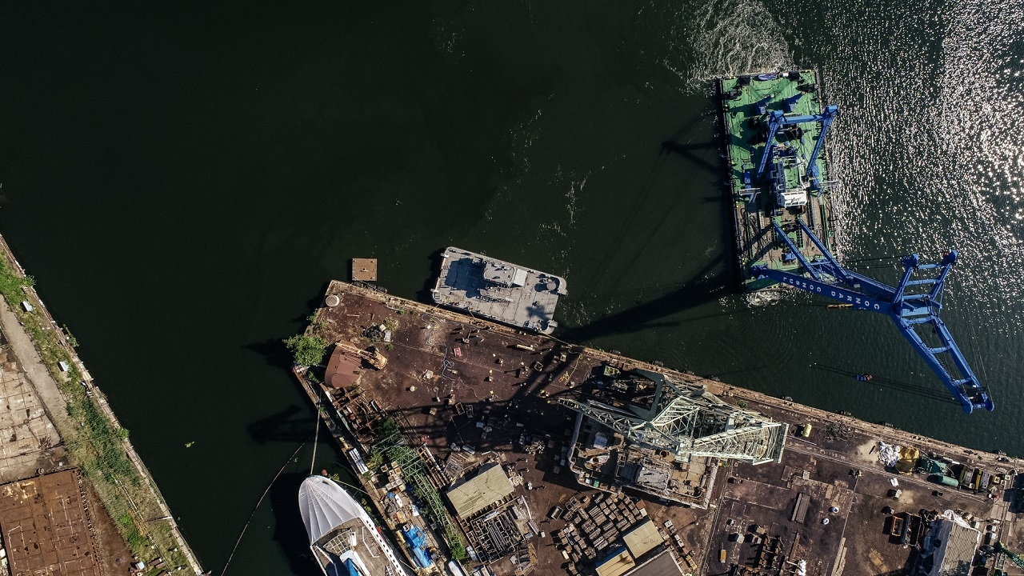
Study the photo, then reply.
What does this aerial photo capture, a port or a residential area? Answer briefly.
port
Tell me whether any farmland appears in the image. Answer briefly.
No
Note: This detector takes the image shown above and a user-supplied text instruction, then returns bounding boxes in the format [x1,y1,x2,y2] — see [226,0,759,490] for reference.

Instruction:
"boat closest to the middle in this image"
[431,246,566,332]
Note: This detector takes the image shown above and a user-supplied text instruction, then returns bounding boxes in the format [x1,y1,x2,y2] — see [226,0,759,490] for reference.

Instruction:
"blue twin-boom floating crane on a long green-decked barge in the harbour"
[720,67,997,417]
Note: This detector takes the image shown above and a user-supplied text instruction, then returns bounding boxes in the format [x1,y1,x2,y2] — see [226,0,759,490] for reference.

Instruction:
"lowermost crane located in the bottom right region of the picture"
[991,541,1024,570]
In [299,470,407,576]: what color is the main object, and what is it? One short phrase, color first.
white boat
